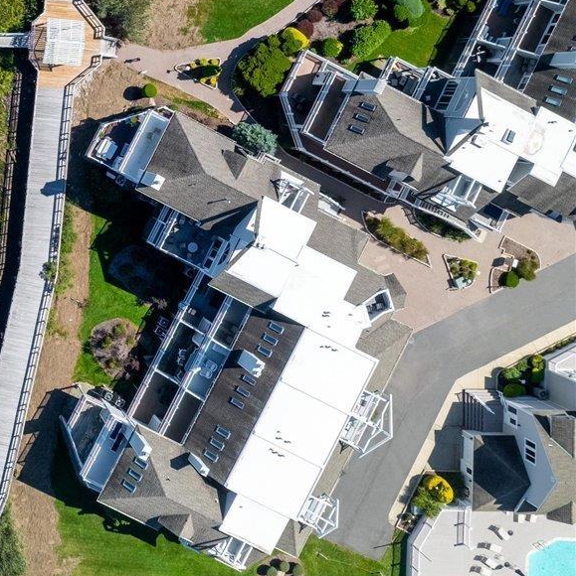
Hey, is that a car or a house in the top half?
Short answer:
house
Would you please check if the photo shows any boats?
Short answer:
No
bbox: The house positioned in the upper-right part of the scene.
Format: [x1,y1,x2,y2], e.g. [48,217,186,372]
[268,0,576,248]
